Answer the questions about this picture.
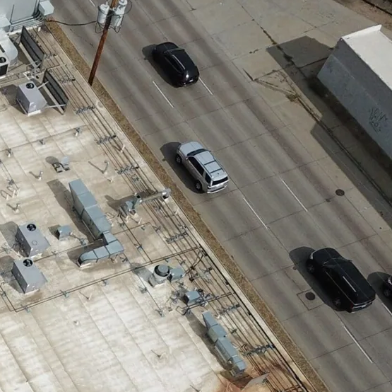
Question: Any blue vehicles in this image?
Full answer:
No, no blue vehicle is visible in the scene.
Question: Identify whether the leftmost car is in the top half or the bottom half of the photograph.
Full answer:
The leftmost car is in the top half of the image.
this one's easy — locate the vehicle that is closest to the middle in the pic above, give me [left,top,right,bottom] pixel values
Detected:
[177,141,233,193]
